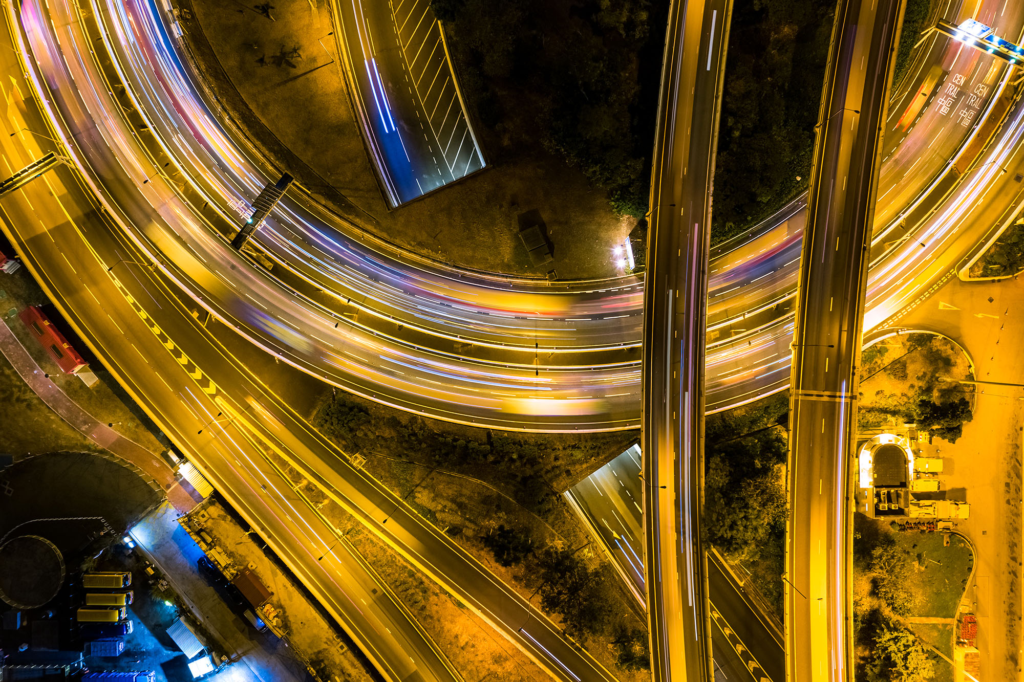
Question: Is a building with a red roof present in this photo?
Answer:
Yes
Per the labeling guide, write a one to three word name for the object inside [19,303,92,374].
building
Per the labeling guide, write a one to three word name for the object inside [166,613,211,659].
shed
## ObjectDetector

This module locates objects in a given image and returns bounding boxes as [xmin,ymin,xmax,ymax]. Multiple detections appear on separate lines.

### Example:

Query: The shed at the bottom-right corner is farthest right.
[953,646,989,682]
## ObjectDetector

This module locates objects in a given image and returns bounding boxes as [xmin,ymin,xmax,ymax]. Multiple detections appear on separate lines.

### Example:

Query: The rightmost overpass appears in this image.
[782,0,911,682]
